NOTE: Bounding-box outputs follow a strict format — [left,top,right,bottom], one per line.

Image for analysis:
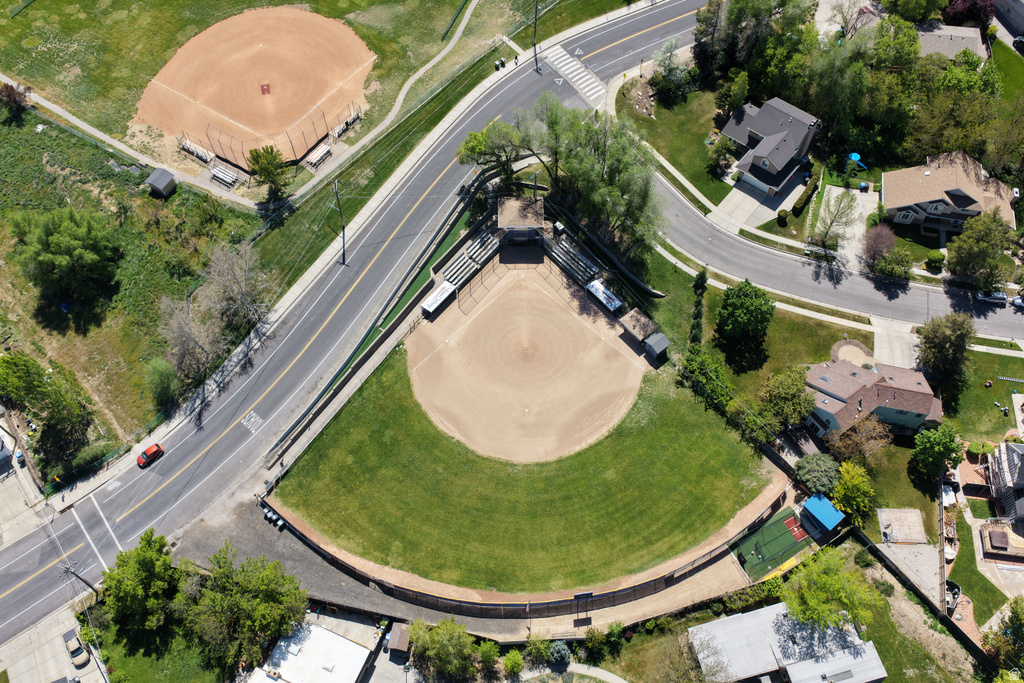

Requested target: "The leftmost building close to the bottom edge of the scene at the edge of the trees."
[235,622,371,683]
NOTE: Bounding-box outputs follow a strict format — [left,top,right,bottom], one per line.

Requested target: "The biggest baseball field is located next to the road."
[262,238,794,603]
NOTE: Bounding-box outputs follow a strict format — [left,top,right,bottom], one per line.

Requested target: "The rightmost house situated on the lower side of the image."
[980,437,1024,522]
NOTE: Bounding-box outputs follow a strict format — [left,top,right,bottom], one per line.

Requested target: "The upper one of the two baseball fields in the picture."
[132,6,377,174]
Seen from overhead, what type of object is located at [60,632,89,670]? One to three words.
car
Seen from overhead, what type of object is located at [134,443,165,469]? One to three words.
car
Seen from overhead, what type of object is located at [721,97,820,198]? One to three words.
house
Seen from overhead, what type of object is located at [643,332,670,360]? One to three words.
shed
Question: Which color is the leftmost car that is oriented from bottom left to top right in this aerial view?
red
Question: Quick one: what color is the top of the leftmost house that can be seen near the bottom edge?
white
